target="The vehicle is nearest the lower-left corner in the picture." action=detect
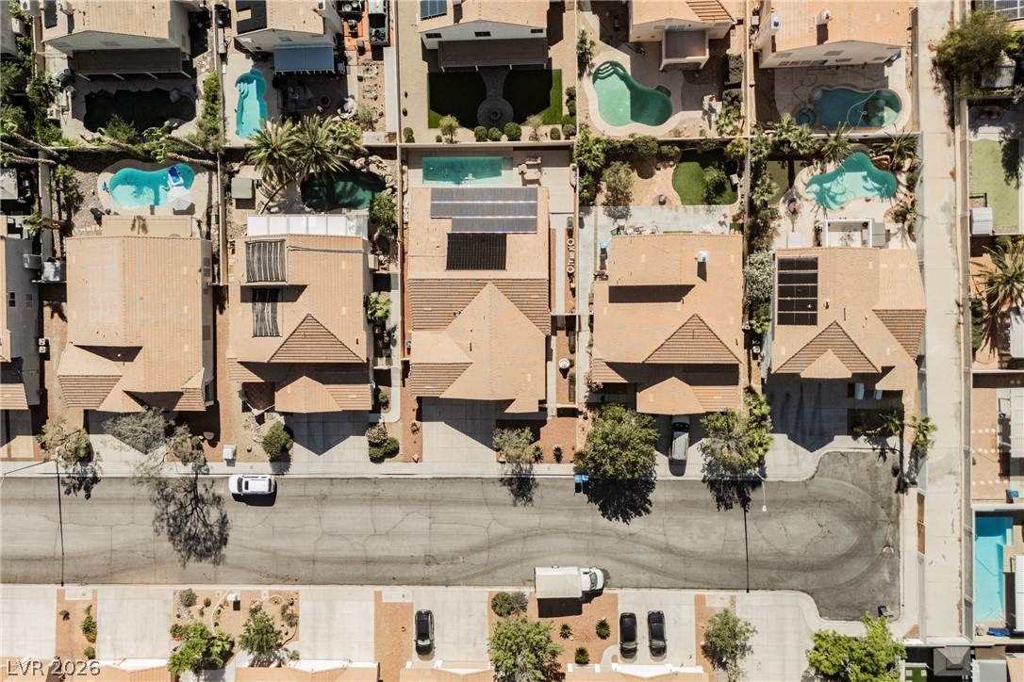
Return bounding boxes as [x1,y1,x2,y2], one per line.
[230,474,277,496]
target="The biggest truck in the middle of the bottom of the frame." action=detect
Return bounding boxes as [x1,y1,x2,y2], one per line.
[534,566,603,597]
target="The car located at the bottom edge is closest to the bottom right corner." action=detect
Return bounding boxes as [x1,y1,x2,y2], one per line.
[646,609,668,655]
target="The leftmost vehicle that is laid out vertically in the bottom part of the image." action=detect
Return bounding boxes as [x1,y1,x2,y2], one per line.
[414,608,435,653]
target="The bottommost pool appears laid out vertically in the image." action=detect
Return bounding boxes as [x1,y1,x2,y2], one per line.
[974,515,1017,624]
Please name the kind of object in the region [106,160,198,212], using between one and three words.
swimming pool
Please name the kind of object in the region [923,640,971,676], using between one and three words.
gazebo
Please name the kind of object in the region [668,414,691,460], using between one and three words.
vehicle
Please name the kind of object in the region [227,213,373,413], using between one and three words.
house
